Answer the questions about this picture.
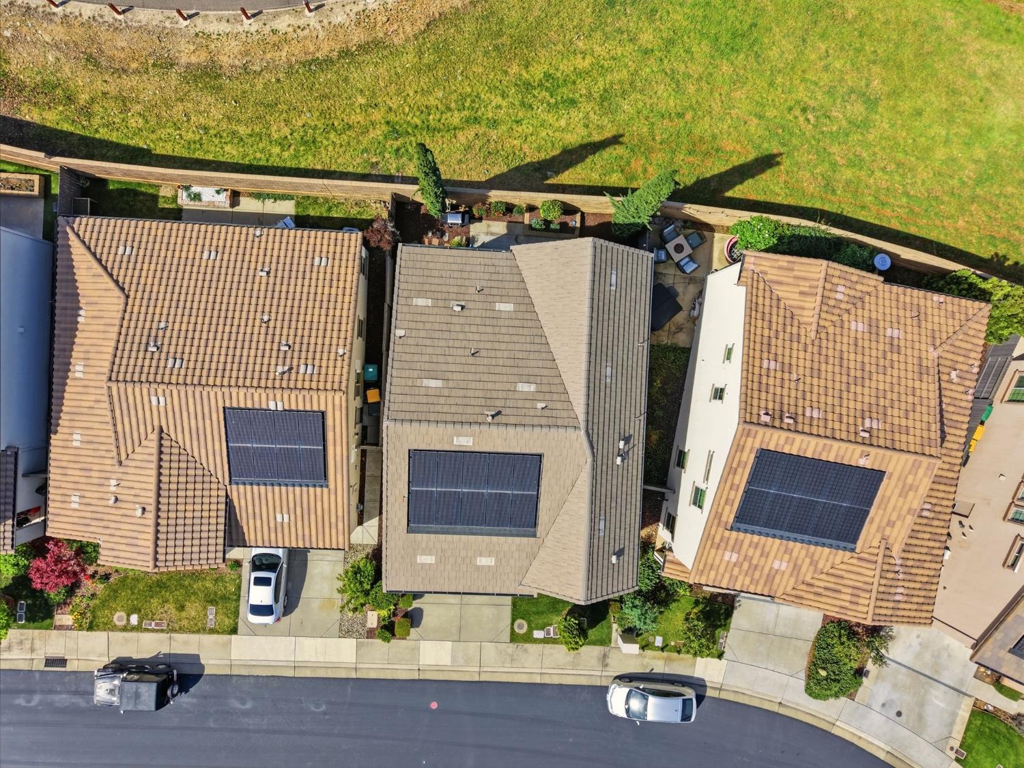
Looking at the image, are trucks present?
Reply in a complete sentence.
No, there isn't any truck down there.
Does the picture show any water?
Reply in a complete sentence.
No, the picture contains no water.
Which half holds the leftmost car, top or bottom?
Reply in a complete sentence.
You can find the leftmost car in the bottom half.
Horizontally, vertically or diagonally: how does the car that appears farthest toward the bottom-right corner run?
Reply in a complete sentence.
I'd say the car that appears farthest toward the bottom-right corner is aligned horizontally in the picture.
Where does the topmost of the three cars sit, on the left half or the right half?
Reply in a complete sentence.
The topmost of the three cars sits on the left side.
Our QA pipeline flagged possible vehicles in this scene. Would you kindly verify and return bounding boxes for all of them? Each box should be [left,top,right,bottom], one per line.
[604,673,695,721]
[245,552,289,623]
[97,661,177,710]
